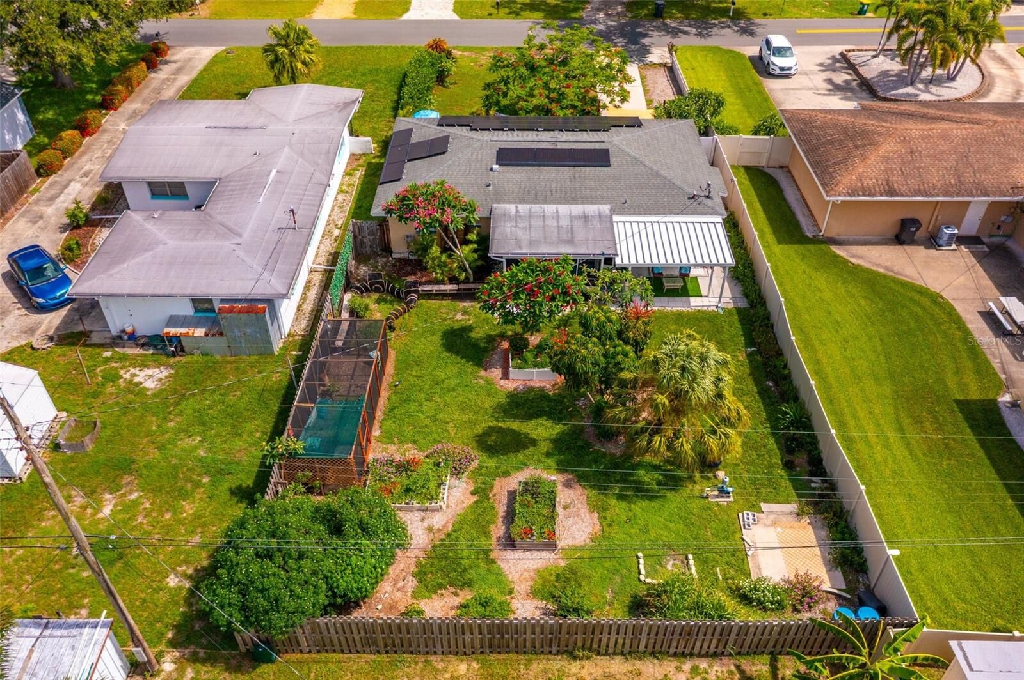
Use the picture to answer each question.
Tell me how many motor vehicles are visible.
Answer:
two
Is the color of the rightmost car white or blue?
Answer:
white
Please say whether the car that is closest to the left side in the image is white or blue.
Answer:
blue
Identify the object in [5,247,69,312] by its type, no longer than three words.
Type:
car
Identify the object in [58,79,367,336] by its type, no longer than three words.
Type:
house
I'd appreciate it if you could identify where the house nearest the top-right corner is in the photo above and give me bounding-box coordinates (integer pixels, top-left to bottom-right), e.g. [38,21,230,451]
[774,101,1024,261]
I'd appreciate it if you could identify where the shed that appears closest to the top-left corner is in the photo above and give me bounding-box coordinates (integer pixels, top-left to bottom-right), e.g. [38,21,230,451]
[0,80,34,150]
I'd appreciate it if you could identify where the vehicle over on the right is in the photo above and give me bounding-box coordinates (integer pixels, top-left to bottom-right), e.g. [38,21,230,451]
[757,35,801,74]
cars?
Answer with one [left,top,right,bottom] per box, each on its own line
[757,35,801,74]
[5,247,69,312]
